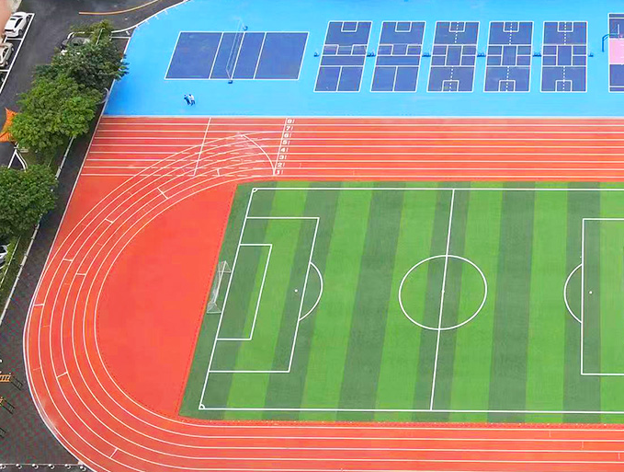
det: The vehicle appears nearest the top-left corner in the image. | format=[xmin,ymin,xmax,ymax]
[0,12,30,37]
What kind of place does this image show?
sports ground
